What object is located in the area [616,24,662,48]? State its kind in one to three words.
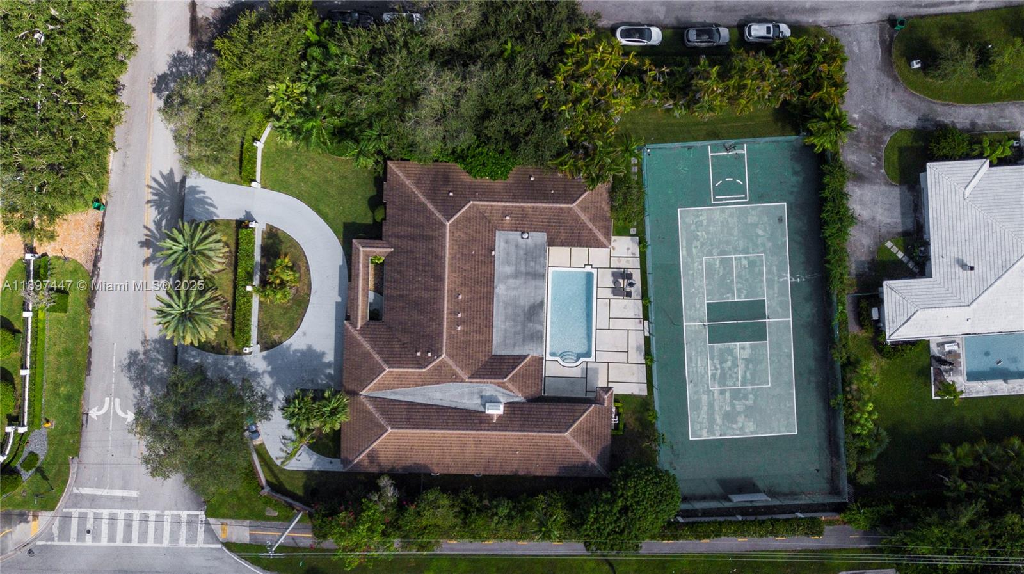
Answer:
car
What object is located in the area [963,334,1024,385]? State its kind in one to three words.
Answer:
swimming pool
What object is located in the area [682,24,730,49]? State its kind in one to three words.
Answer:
car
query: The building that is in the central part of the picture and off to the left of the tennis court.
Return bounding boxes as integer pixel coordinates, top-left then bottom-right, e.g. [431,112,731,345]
[340,160,614,478]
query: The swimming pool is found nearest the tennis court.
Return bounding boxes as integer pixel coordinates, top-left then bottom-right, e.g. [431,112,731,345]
[546,265,597,367]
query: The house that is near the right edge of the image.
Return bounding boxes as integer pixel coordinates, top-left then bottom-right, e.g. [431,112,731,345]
[876,159,1024,341]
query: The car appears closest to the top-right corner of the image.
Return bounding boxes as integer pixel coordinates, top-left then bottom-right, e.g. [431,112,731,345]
[744,20,792,46]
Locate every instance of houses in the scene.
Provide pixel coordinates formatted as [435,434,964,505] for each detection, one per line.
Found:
[340,160,614,478]
[876,159,1024,341]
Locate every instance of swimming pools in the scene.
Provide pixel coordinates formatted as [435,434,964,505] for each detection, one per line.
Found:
[546,265,597,367]
[963,334,1024,385]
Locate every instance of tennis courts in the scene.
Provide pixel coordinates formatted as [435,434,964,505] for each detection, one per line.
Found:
[645,142,832,501]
